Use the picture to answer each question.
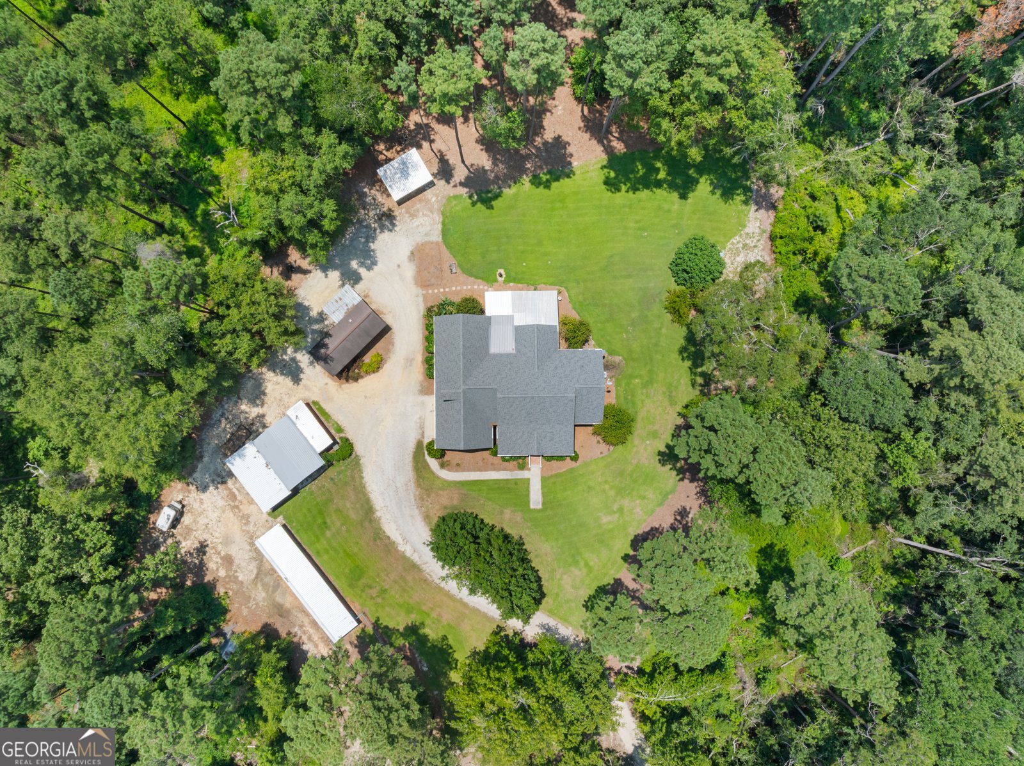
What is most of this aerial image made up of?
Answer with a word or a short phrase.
trees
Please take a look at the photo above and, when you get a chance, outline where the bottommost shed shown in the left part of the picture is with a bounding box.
[255,522,360,645]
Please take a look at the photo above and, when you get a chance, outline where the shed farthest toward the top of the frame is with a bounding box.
[377,148,433,205]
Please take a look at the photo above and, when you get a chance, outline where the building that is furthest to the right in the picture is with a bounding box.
[433,291,604,466]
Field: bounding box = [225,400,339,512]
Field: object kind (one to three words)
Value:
building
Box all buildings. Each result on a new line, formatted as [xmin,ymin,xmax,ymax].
[225,400,339,512]
[255,522,360,645]
[433,291,604,466]
[309,285,388,375]
[377,148,433,205]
